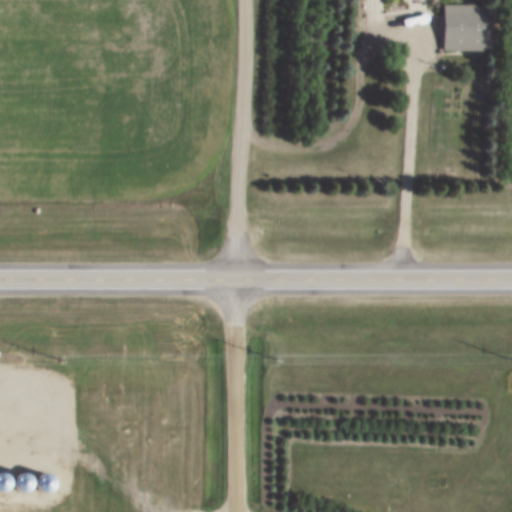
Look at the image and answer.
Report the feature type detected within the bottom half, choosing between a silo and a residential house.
silo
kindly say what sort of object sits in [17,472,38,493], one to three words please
silo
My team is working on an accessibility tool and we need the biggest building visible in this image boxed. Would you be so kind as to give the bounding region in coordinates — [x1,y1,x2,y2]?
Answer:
[445,4,488,52]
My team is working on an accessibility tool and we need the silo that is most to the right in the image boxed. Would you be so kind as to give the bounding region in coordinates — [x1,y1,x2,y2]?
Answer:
[39,472,60,493]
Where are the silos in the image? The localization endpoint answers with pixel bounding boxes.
[0,472,16,493]
[39,472,60,493]
[17,472,38,493]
